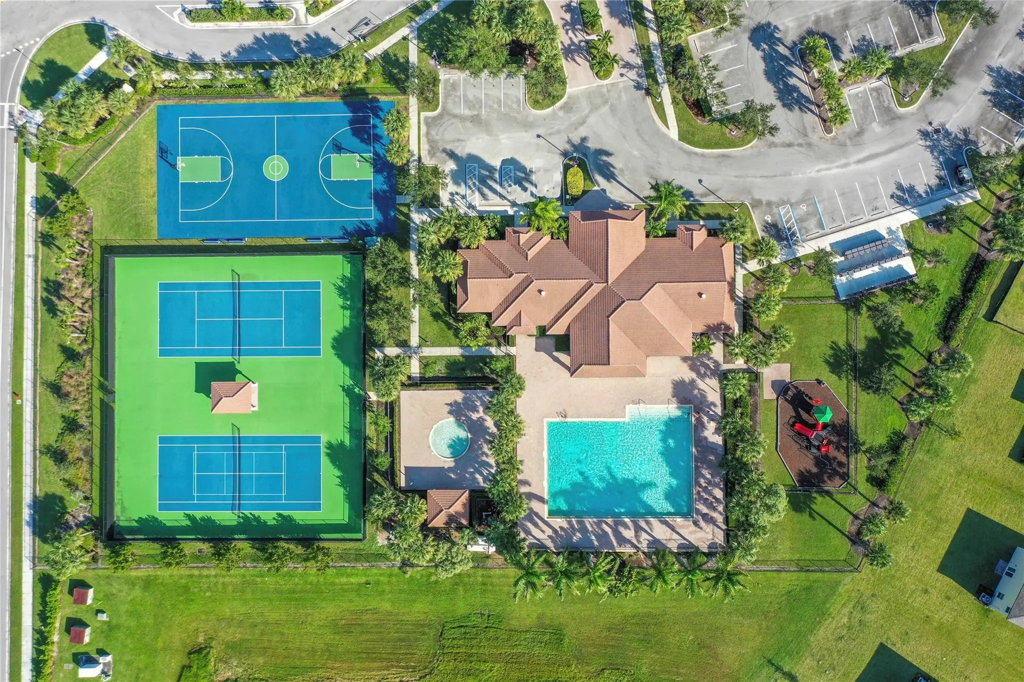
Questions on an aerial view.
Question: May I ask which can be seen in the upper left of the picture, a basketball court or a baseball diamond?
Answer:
basketball court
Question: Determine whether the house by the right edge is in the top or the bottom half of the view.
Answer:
bottom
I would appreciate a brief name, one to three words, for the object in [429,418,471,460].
swimming pool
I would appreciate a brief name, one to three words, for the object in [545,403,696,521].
swimming pool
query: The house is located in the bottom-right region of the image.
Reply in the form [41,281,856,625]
[988,546,1024,627]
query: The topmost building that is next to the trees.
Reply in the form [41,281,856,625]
[457,210,735,377]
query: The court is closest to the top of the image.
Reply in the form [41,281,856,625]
[157,101,396,237]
